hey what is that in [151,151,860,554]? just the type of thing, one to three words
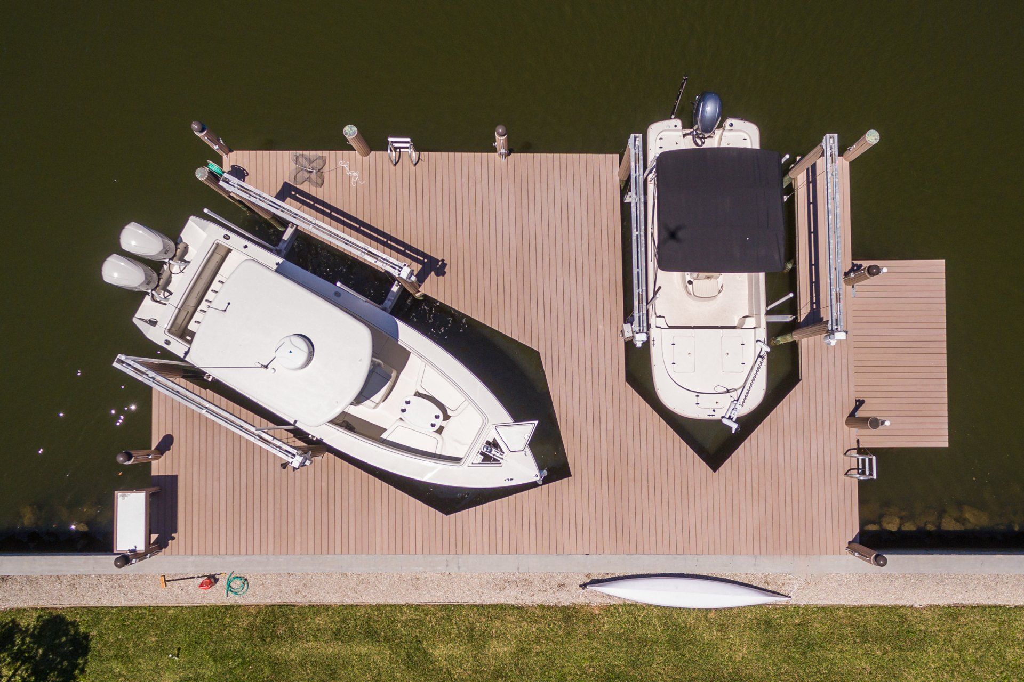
pier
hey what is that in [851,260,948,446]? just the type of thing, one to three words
pier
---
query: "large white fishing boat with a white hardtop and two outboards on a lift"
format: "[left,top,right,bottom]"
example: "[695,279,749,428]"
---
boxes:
[100,217,547,489]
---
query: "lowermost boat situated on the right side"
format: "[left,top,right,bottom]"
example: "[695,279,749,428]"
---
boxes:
[579,576,798,610]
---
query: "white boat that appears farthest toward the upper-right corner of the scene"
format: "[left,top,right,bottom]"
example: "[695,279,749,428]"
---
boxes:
[646,75,784,433]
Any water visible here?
Yes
